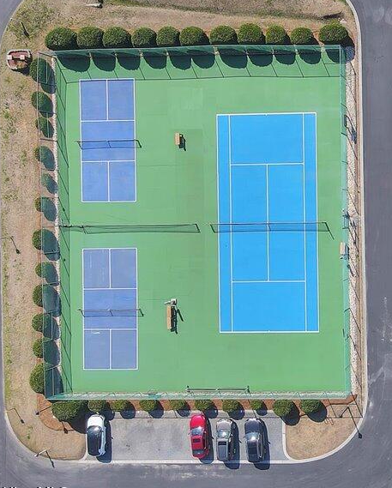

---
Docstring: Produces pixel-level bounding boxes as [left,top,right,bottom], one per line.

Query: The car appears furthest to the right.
[242,417,265,463]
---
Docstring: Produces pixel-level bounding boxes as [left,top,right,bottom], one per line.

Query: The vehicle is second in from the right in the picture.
[215,418,236,462]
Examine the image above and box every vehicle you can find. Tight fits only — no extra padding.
[242,417,265,463]
[215,418,236,462]
[85,413,109,456]
[188,414,210,459]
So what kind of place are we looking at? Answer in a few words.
sports ground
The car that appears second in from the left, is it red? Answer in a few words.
Yes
